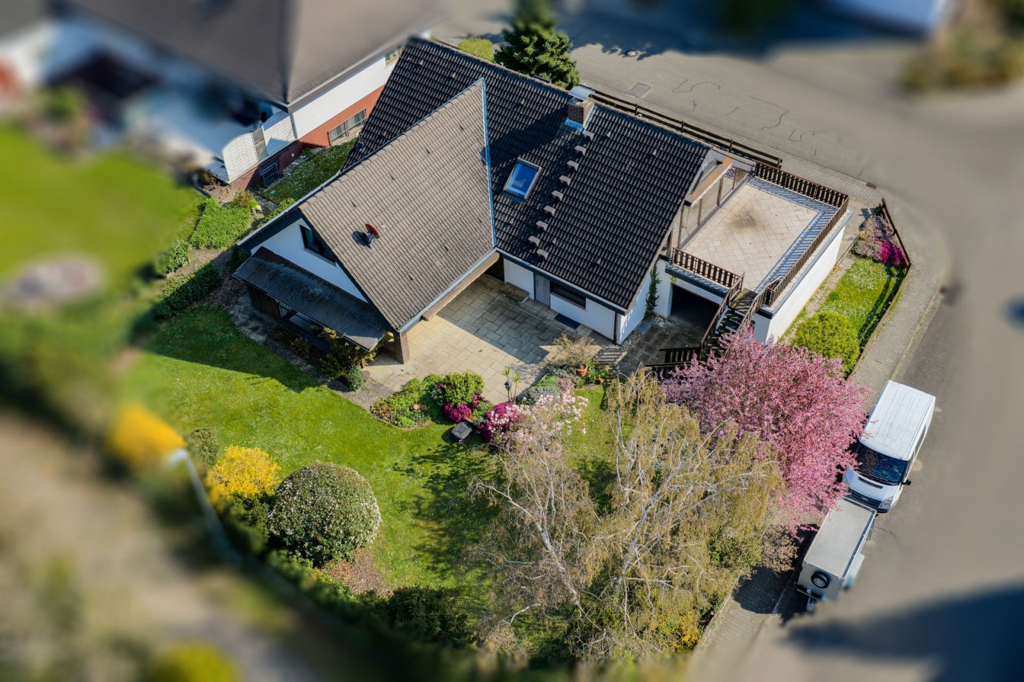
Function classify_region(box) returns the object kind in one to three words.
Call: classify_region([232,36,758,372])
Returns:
house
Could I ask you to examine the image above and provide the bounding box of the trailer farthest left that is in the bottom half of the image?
[790,492,874,623]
